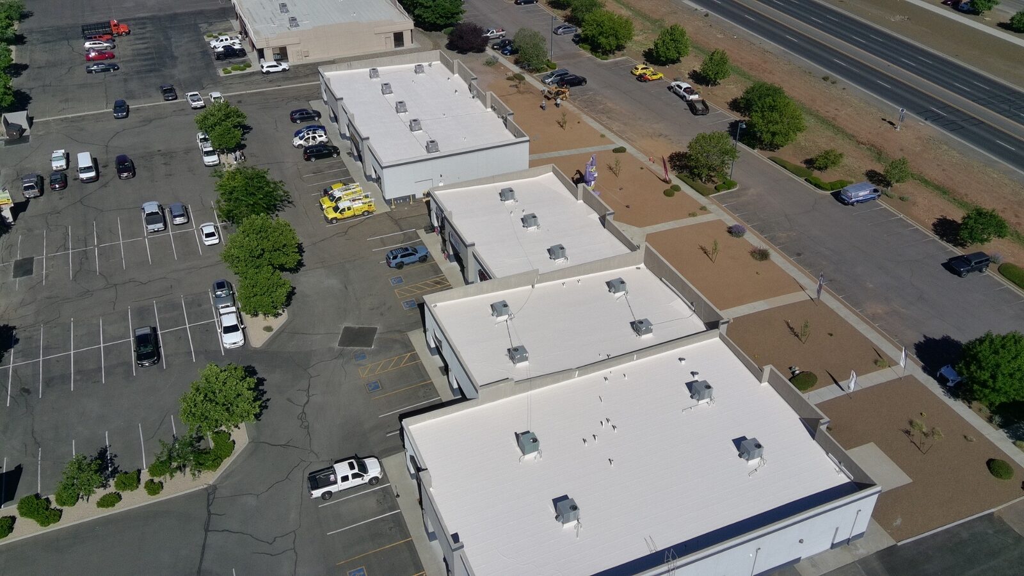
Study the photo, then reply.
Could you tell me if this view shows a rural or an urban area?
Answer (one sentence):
The area shown here is urban.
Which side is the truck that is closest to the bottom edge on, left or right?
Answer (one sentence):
You can find the truck that is closest to the bottom edge on the left side of the picture.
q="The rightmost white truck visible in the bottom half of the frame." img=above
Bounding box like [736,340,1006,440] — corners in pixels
[304,457,385,504]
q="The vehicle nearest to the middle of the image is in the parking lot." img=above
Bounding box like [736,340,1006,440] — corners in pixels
[384,245,431,269]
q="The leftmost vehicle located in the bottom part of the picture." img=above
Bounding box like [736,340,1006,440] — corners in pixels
[132,323,162,369]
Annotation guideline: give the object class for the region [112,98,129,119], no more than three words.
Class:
vehicle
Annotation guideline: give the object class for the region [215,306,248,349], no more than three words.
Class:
truck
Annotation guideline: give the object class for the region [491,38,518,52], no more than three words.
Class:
car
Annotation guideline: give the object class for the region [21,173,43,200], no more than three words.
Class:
truck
